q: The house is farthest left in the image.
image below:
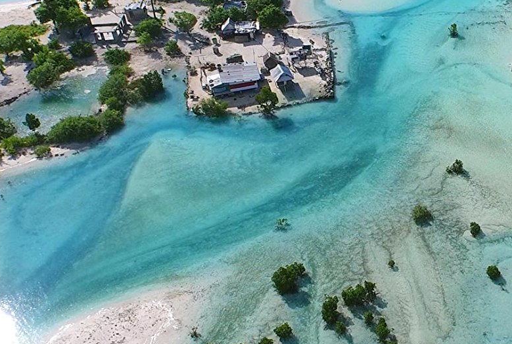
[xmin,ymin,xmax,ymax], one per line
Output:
[90,7,130,42]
